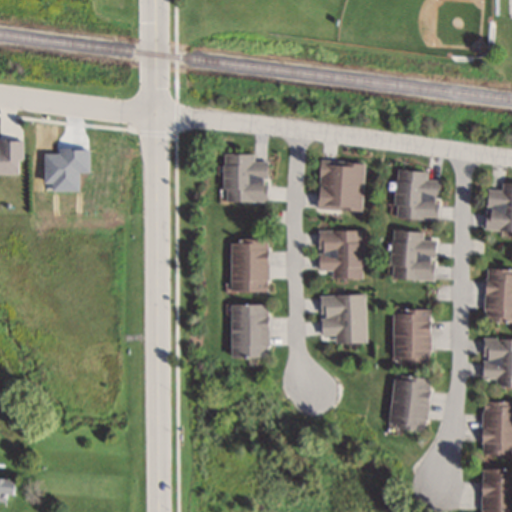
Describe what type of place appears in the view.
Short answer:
residential area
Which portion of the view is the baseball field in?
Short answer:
top right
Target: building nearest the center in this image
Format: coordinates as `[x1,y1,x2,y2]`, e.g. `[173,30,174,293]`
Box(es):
[226,238,269,294]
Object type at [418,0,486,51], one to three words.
baseball field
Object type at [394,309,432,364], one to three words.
house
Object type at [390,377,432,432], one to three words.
house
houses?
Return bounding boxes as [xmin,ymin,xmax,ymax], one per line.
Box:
[220,154,268,206]
[394,309,432,364]
[320,230,364,280]
[322,294,368,345]
[0,136,19,176]
[483,468,512,512]
[486,183,512,232]
[390,377,432,432]
[226,303,269,360]
[44,148,90,192]
[486,268,512,320]
[388,170,442,220]
[317,159,367,212]
[0,480,16,509]
[484,338,512,388]
[483,402,512,462]
[226,238,269,294]
[394,230,436,281]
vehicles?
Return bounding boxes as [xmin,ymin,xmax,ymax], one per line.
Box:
[435,166,440,178]
[270,339,283,344]
[429,169,434,179]
[431,406,442,411]
[468,423,480,428]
